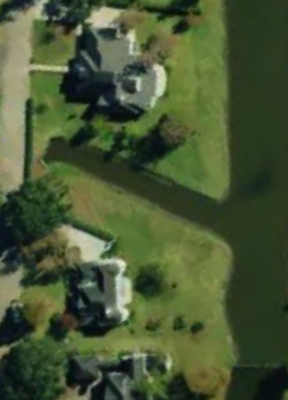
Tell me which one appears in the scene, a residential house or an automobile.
residential house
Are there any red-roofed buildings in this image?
No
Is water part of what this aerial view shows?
Yes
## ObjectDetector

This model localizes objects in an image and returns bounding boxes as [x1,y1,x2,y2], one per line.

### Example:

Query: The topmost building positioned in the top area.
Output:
[74,21,164,119]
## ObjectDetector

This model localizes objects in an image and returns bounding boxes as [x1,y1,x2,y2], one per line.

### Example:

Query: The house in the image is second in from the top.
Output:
[72,257,131,325]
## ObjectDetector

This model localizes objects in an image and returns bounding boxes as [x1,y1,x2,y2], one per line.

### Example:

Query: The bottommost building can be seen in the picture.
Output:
[66,351,169,400]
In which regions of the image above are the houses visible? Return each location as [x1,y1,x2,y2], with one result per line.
[72,257,131,325]
[74,21,164,119]
[66,351,169,400]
